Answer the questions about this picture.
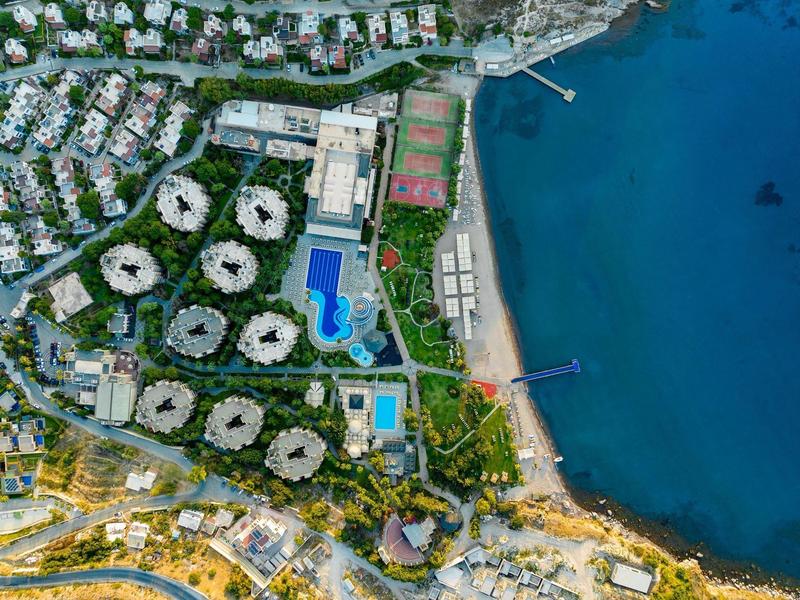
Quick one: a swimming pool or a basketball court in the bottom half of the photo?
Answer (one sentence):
The one visible in the bottom half of the photo is a swimming pool.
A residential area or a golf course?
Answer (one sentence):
This image shows a residential area.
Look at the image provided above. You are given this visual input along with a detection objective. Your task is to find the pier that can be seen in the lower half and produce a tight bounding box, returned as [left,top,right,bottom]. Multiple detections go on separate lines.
[512,360,580,384]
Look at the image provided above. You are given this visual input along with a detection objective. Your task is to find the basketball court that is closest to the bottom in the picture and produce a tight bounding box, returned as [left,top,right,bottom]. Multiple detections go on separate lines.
[388,172,450,208]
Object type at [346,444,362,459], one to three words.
umbrella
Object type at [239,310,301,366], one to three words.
building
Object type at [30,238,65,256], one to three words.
house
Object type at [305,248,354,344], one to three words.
swimming pool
